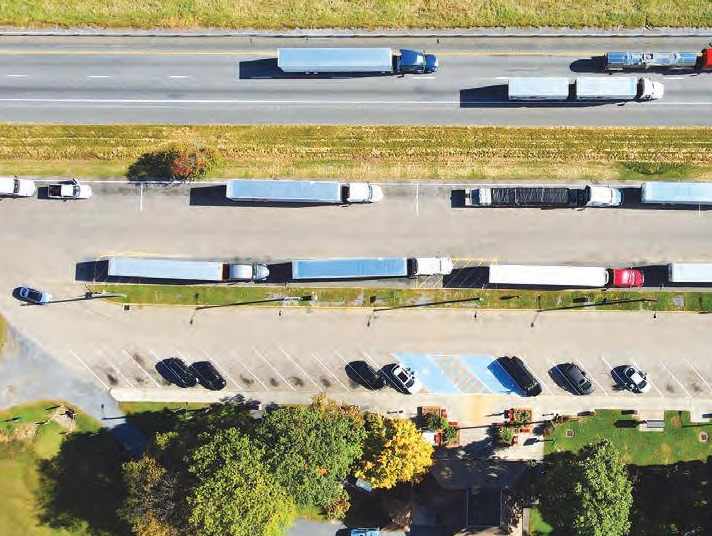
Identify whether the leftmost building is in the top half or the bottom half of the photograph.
bottom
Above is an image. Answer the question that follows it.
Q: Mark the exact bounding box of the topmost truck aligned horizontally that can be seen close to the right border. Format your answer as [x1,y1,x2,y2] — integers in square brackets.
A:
[603,52,712,78]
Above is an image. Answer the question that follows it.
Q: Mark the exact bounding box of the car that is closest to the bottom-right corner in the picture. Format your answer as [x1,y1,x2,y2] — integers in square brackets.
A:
[621,363,648,392]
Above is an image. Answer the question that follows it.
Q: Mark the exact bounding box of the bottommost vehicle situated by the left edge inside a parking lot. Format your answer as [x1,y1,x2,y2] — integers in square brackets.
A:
[20,288,54,304]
